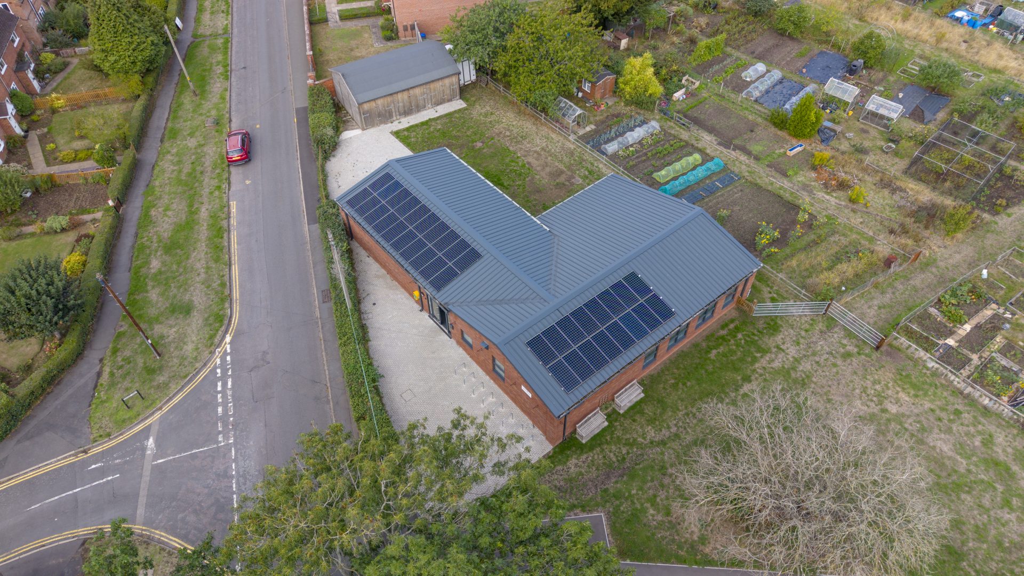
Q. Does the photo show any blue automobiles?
No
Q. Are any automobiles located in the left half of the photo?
Yes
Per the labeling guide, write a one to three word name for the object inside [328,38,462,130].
barn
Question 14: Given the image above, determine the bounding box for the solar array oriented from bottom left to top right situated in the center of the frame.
[526,271,675,393]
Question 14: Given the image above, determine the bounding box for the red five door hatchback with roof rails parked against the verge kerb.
[220,123,251,161]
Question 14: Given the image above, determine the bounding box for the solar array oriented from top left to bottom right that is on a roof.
[347,172,481,291]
